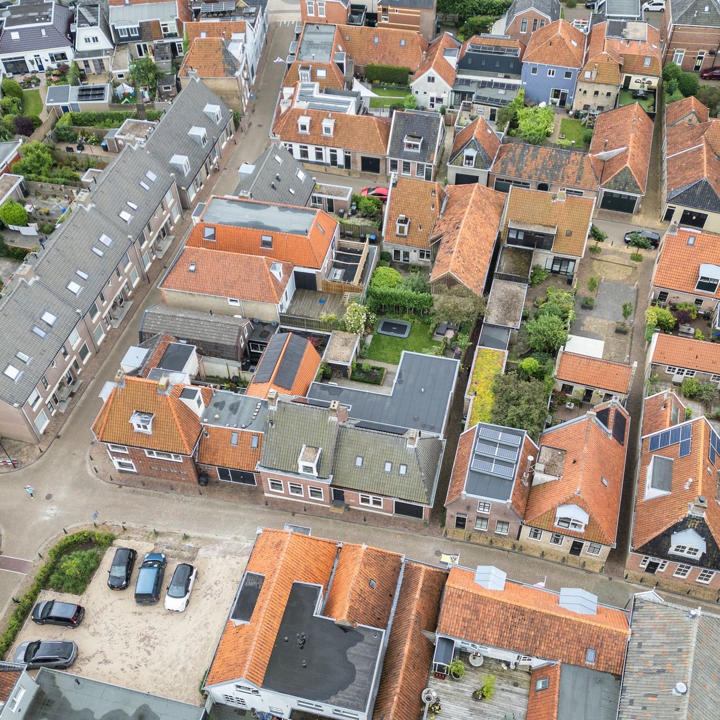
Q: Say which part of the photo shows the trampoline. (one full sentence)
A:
The trampoline sits in the center section of the image.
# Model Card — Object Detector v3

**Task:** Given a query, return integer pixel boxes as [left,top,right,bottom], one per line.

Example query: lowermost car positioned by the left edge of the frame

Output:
[12,641,75,670]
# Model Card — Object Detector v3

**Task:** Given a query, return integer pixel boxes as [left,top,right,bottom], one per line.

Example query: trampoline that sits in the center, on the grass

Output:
[377,319,411,340]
